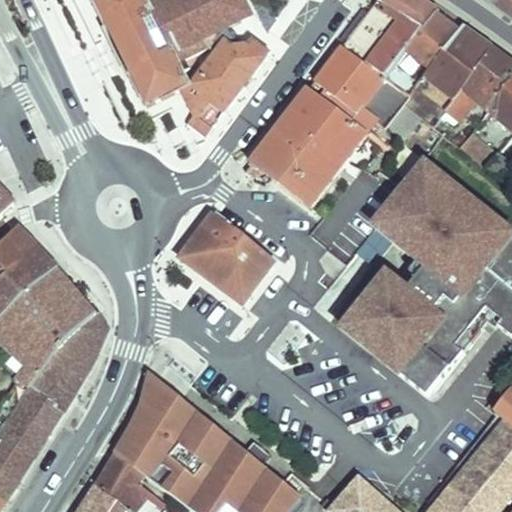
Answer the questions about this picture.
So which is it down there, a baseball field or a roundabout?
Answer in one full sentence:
This aerial view contains a roundabout.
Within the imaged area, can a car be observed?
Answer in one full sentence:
Yes, the photo shows a car.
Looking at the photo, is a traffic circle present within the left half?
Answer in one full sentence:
Yes, the scene does show a traffic circle within the left half.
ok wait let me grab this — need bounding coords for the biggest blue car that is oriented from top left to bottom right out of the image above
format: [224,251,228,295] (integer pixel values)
[456,424,477,441]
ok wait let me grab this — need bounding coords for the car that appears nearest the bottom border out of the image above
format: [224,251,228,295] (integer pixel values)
[45,474,61,494]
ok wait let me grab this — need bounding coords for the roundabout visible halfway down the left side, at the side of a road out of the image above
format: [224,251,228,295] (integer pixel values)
[56,134,200,316]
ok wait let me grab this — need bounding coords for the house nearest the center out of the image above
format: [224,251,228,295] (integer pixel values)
[177,211,276,305]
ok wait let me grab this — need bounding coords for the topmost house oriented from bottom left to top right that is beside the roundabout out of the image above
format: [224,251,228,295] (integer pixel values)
[180,32,268,130]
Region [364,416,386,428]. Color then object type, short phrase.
white vehicle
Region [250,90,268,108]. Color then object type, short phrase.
white car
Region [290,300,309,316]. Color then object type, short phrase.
white car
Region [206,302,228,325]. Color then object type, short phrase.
white vehicle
